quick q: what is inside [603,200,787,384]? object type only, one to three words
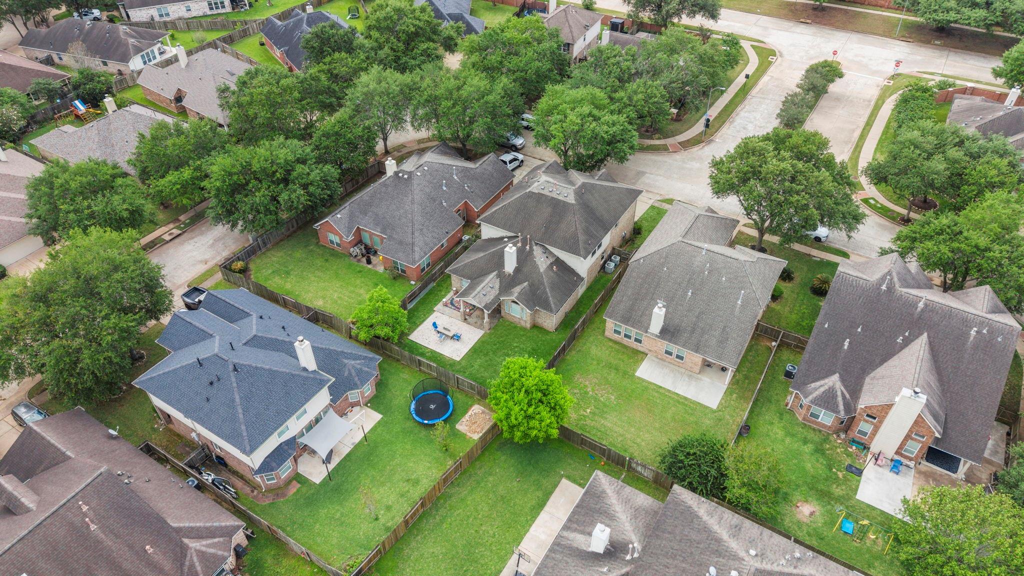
house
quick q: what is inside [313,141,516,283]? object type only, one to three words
house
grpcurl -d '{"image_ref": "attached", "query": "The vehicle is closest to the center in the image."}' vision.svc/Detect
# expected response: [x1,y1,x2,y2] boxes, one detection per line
[503,155,527,172]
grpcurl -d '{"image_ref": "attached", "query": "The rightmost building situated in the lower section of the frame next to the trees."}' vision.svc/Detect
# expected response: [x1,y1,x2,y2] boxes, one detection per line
[783,252,1022,477]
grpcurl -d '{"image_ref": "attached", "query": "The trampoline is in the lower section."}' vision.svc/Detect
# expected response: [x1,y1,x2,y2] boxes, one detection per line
[407,381,457,431]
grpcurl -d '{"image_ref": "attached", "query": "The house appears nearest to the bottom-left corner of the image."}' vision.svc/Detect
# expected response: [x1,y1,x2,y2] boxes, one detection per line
[0,406,247,576]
